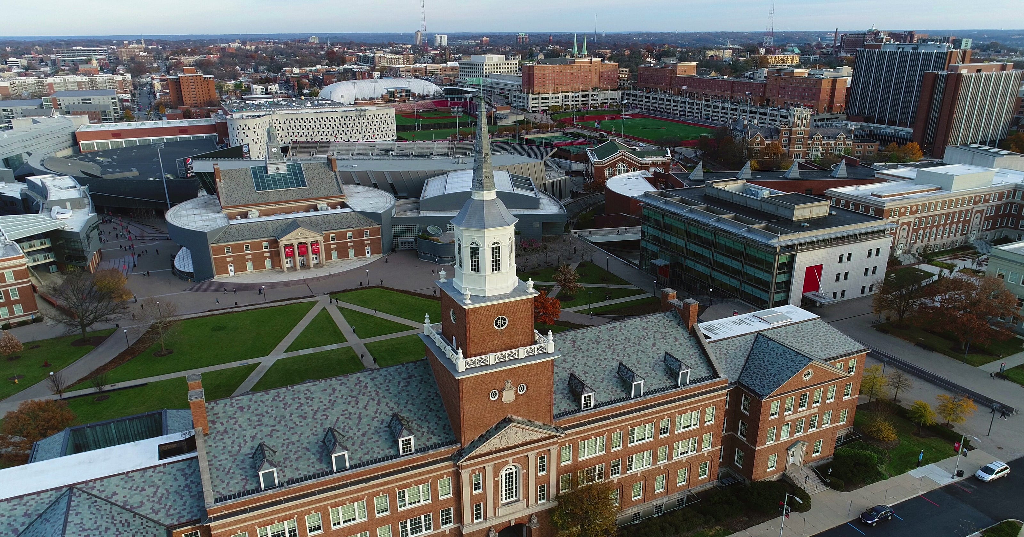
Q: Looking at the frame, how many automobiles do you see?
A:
2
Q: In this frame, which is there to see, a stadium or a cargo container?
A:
stadium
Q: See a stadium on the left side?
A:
Yes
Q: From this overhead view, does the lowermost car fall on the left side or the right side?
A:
right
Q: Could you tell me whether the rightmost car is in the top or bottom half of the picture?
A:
bottom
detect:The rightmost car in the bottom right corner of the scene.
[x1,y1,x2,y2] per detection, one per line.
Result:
[977,458,1012,481]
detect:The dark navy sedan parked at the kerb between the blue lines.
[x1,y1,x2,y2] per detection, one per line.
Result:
[861,506,897,527]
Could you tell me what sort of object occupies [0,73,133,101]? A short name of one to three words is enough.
building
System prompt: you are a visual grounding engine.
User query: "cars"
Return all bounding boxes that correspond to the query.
[861,506,897,527]
[977,458,1012,481]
